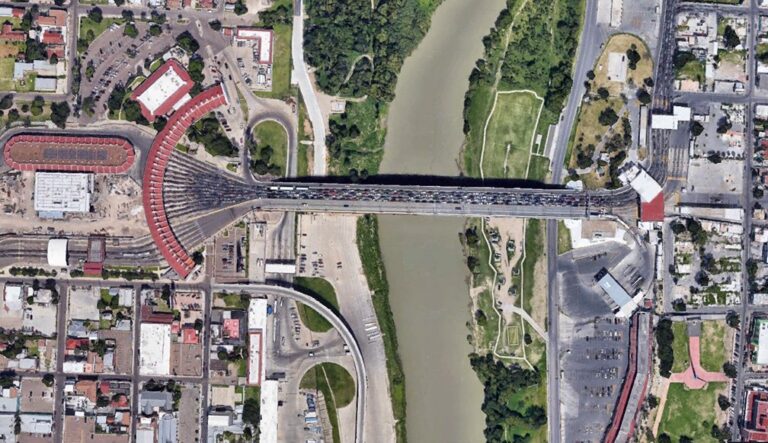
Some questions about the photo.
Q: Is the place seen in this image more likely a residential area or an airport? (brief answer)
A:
residential area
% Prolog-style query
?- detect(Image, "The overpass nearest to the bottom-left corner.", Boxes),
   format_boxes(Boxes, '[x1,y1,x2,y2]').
[208,282,368,443]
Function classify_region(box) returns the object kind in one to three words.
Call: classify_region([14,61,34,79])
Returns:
house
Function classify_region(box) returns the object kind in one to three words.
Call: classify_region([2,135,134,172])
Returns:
building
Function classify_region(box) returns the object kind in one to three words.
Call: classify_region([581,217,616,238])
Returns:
building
